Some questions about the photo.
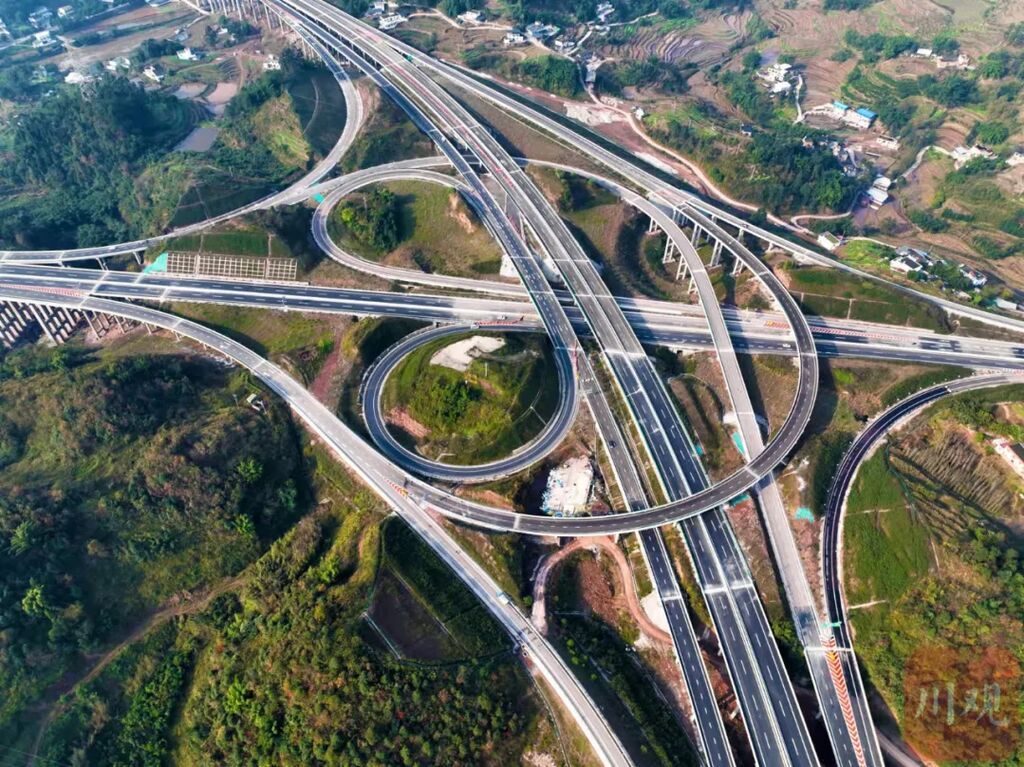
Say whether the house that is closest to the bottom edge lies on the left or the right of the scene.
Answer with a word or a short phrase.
right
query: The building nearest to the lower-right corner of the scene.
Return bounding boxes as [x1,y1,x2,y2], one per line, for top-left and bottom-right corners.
[994,434,1024,464]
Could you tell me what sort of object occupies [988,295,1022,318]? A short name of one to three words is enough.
house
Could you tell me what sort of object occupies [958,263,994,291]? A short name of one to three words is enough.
house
